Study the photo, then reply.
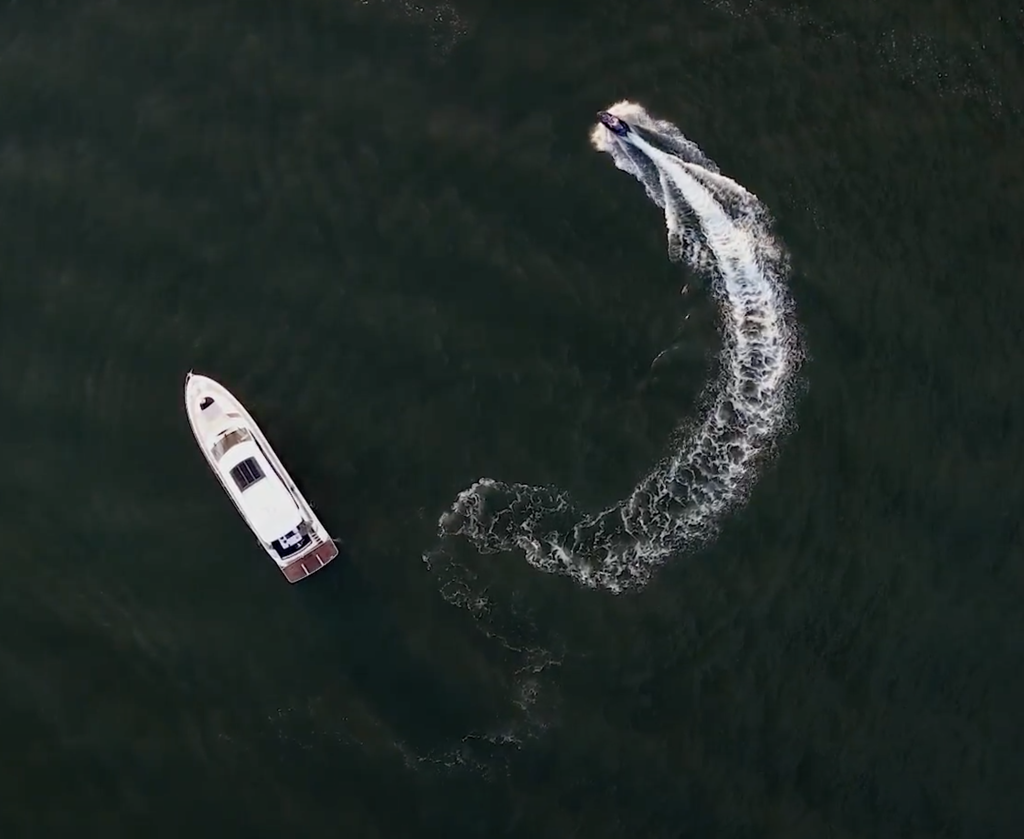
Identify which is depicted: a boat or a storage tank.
boat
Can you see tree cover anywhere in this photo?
No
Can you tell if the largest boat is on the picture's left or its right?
left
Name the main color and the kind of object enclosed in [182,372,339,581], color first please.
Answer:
white boat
